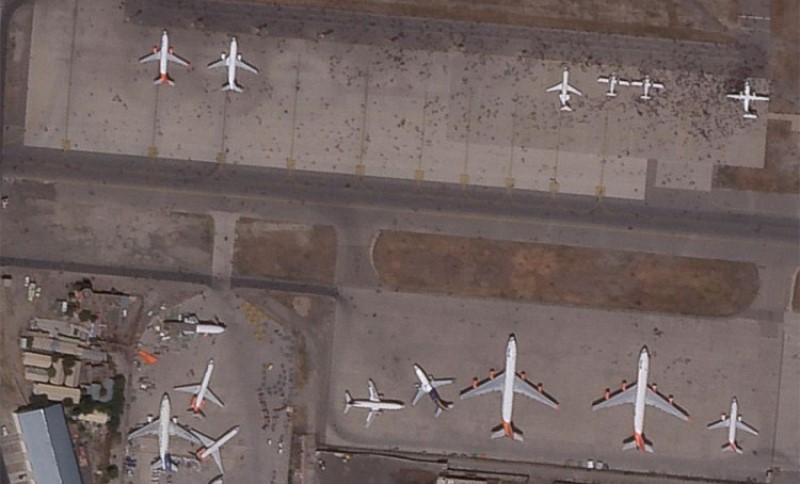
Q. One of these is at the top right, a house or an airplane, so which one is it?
airplane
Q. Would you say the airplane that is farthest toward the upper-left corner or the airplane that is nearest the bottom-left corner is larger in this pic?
the airplane that is nearest the bottom-left corner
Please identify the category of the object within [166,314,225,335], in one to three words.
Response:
airplane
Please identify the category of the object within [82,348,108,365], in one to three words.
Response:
house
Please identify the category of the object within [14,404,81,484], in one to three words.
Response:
hangar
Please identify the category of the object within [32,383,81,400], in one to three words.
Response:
house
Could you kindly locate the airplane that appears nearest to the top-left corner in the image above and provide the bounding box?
[139,31,190,86]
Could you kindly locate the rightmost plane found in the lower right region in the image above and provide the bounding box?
[708,397,759,453]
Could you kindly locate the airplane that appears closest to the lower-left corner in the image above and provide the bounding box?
[127,393,201,471]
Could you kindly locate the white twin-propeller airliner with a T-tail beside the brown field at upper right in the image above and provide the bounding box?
[727,82,768,116]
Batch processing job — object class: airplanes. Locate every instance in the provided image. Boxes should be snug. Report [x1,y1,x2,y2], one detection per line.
[598,73,630,97]
[139,31,190,86]
[175,358,225,419]
[212,476,222,484]
[166,314,225,335]
[189,426,238,474]
[347,380,405,428]
[546,67,580,108]
[127,393,201,471]
[209,37,257,91]
[461,334,561,440]
[727,82,768,116]
[414,364,454,417]
[591,346,691,451]
[631,77,664,100]
[708,397,759,453]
